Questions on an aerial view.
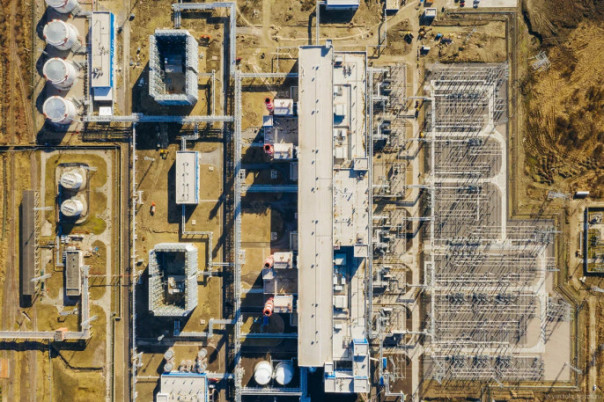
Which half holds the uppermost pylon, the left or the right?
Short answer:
right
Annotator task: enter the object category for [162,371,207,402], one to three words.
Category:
house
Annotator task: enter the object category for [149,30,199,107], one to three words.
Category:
cooling tower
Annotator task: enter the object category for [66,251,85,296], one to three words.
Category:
building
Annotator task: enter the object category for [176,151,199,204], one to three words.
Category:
building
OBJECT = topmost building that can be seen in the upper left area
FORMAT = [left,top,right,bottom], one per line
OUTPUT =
[92,12,116,91]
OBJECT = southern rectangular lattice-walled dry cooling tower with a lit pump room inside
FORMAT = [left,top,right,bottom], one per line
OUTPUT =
[149,243,199,317]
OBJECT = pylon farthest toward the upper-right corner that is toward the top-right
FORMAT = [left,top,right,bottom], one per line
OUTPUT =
[527,53,551,73]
